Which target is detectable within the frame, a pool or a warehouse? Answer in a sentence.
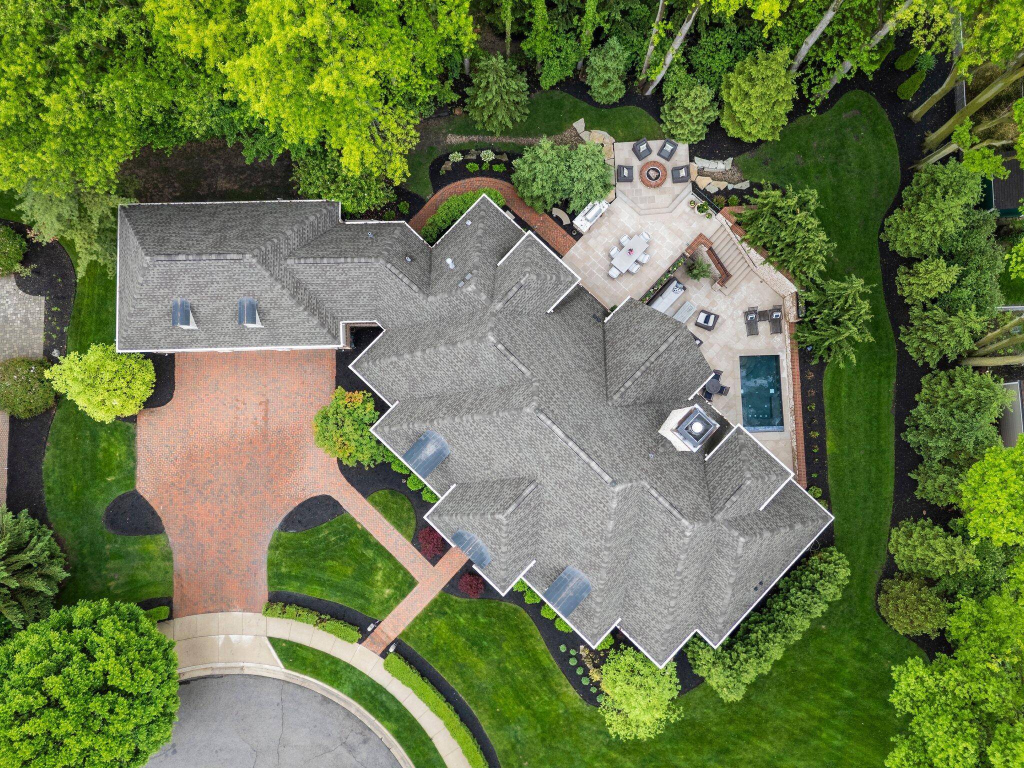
Visible in the photo is a pool.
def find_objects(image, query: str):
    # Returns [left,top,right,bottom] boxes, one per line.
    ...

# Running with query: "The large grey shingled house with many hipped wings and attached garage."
[115,192,837,672]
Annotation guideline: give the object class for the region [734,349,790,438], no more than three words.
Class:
swimming pool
